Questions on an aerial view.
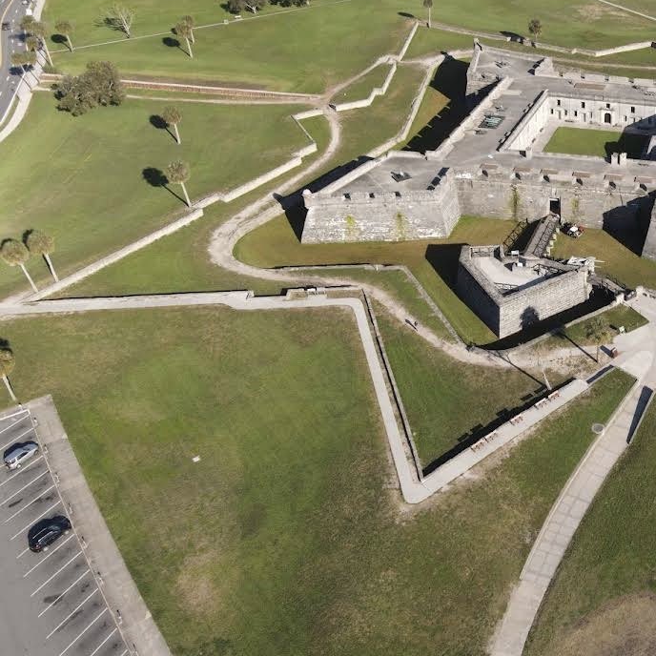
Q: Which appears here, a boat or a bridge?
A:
bridge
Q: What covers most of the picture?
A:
grass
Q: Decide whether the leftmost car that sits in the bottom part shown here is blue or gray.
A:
gray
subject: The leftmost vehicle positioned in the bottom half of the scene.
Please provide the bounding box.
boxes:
[0,444,40,468]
